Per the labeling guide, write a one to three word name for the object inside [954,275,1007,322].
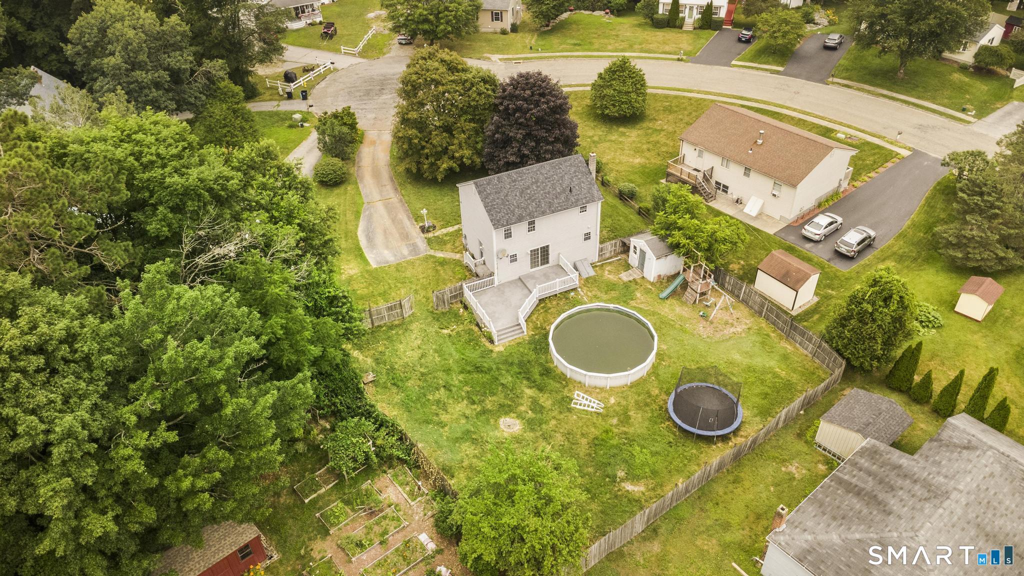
shed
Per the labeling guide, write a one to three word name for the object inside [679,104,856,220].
house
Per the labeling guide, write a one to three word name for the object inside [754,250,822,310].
shed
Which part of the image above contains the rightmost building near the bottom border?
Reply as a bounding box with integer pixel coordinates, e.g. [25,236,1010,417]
[759,403,1024,576]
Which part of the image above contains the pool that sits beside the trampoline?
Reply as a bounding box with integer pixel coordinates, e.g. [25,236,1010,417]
[549,302,661,390]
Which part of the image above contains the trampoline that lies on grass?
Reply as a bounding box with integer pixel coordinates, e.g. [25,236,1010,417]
[670,365,746,448]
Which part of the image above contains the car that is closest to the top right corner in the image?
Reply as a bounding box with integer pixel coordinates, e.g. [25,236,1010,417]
[824,31,846,50]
